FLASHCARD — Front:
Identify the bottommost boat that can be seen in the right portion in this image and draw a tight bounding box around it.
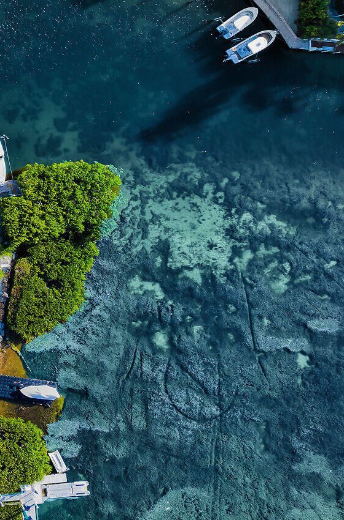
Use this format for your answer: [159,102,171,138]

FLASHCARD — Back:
[217,30,276,64]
